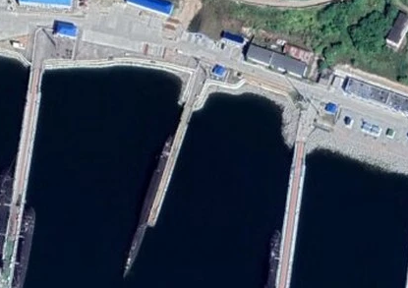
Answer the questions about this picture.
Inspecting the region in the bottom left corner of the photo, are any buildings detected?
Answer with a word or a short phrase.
No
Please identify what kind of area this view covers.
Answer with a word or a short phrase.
port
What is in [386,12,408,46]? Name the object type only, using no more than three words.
house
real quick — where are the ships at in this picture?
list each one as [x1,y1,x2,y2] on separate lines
[124,136,173,278]
[0,172,13,253]
[13,207,36,288]
[263,229,281,288]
